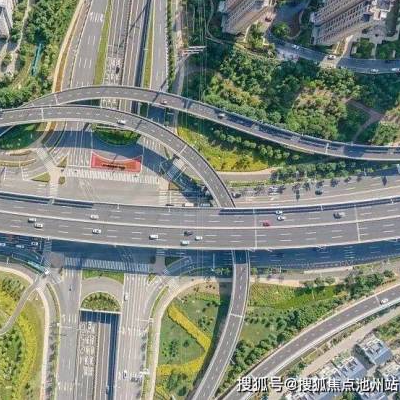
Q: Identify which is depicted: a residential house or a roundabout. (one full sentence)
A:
The image shows a residential house.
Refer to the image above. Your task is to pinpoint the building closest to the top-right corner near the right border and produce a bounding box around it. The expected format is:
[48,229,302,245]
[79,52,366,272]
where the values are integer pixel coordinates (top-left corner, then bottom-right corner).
[310,0,395,44]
